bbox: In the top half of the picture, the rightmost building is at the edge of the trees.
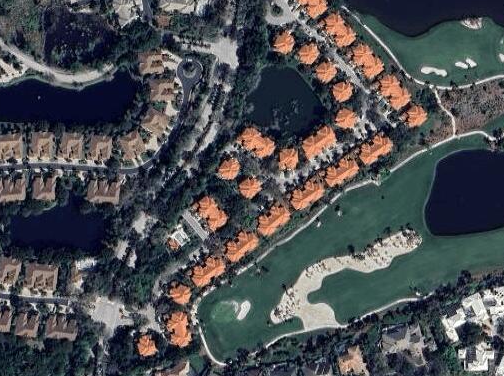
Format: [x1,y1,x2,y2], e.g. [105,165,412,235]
[403,104,427,128]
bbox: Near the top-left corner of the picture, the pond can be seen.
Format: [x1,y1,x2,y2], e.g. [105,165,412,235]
[44,4,118,65]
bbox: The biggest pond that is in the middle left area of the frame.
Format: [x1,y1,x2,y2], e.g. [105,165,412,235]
[9,191,121,253]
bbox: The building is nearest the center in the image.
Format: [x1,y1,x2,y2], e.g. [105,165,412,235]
[236,176,263,200]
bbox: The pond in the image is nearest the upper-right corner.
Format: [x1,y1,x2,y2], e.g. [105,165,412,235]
[245,65,327,141]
